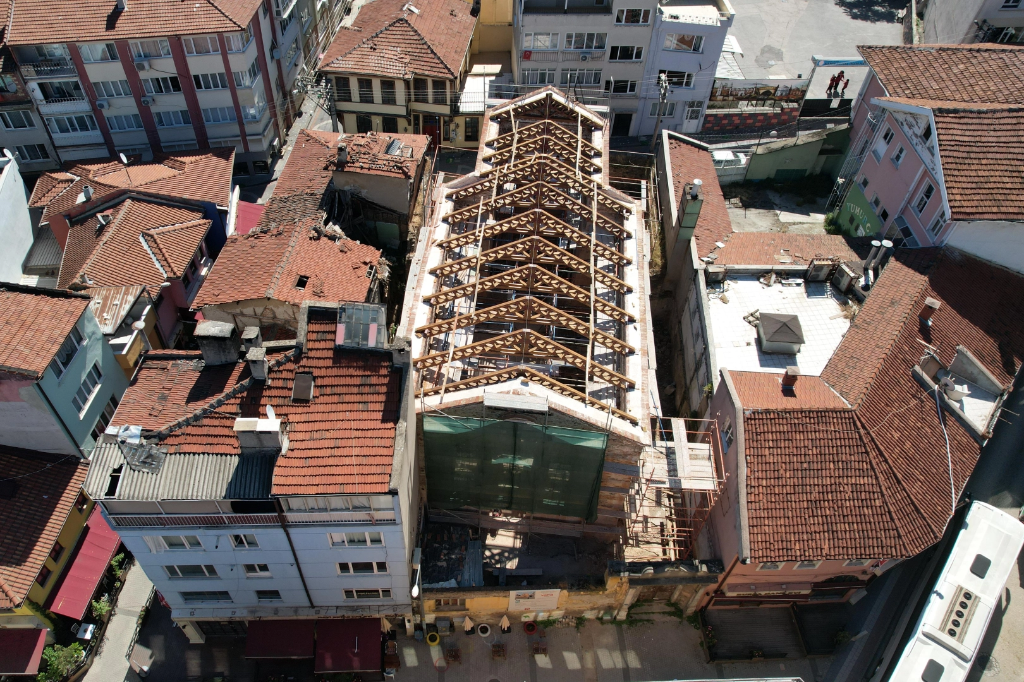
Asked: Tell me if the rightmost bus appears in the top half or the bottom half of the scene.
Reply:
bottom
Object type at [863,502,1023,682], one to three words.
bus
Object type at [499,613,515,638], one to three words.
umbrella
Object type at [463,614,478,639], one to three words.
umbrella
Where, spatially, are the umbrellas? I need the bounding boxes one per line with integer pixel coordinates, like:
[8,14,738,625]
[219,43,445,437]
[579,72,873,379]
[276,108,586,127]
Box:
[463,614,478,639]
[381,618,398,643]
[499,613,515,638]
